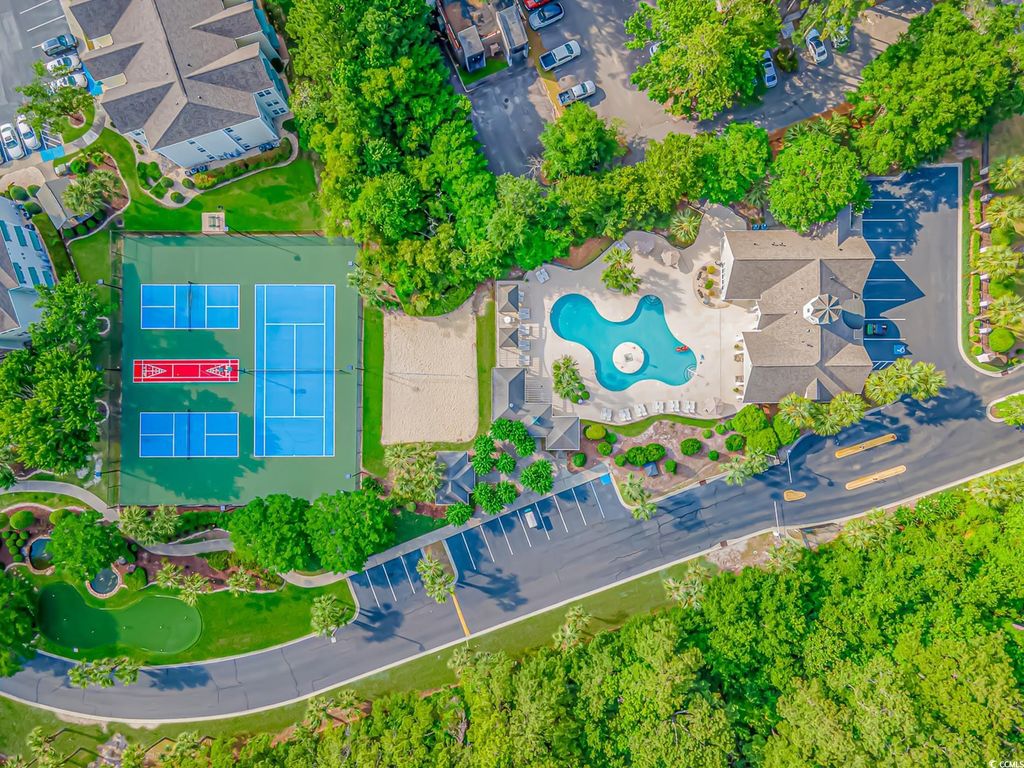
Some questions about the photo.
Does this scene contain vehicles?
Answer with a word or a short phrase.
Yes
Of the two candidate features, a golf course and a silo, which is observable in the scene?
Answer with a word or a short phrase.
golf course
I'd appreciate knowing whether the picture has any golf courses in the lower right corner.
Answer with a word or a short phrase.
No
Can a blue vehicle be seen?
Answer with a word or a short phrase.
Yes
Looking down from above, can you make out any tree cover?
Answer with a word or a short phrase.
Yes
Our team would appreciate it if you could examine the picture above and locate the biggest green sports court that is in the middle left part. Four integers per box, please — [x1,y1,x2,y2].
[119,234,357,505]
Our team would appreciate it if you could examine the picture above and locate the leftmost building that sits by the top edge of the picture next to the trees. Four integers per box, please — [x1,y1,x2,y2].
[69,0,286,166]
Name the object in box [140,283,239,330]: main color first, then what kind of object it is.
blue sports court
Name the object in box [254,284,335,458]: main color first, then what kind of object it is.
blue tennis court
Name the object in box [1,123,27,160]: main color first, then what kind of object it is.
white car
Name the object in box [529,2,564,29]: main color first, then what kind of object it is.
blue car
